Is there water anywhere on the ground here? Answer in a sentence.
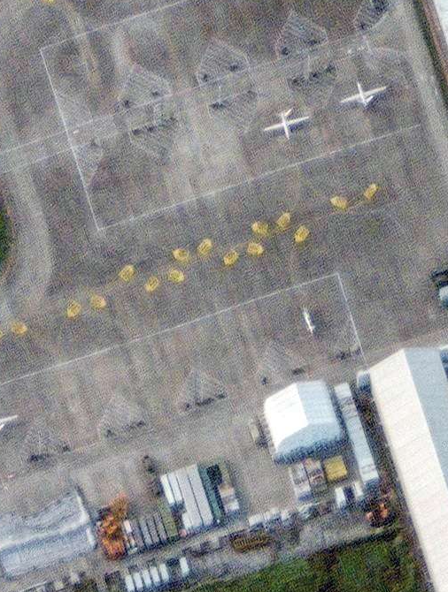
No, there's no water in this view.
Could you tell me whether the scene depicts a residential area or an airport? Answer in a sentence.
The picture captures an airport.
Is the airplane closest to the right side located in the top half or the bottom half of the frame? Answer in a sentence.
The airplane closest to the right side sits in the top half of the picture.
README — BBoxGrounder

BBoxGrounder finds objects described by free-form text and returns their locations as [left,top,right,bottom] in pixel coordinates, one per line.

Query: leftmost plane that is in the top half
[261,110,308,139]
